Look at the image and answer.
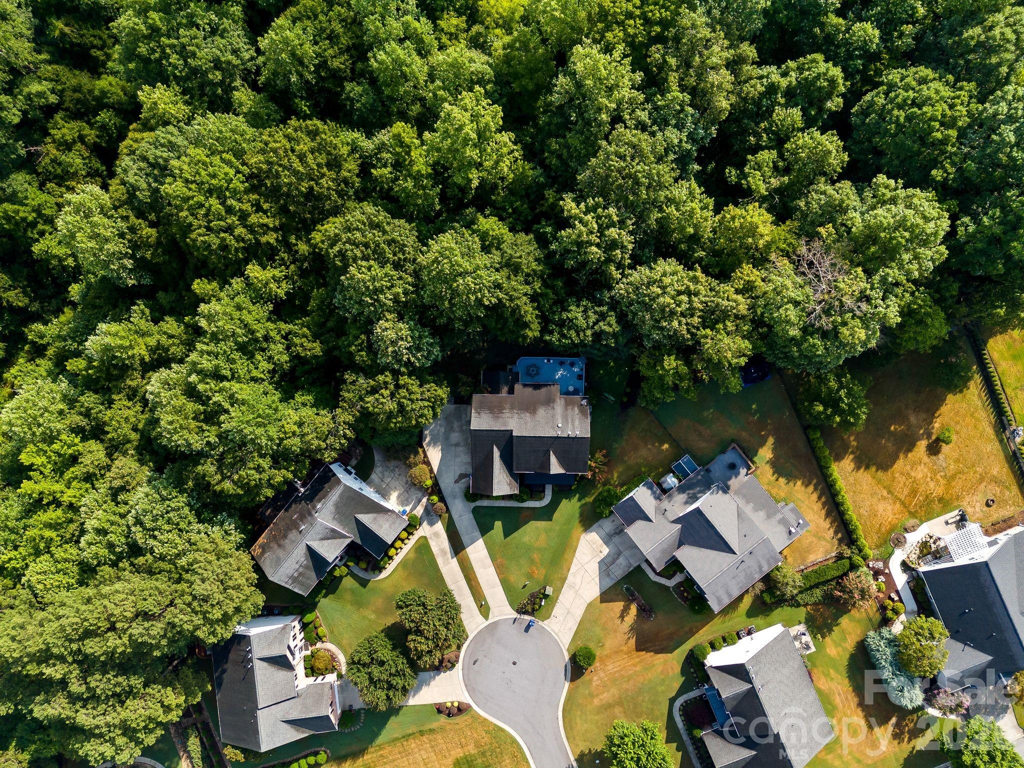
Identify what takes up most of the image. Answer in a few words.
trees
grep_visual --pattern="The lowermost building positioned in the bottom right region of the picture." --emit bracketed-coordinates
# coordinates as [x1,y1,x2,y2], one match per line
[701,624,835,768]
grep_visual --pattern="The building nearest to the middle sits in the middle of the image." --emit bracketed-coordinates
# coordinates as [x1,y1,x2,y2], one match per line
[470,354,591,496]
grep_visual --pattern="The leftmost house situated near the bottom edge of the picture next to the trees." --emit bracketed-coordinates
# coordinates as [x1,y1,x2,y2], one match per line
[211,614,342,752]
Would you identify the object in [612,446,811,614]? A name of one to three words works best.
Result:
house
